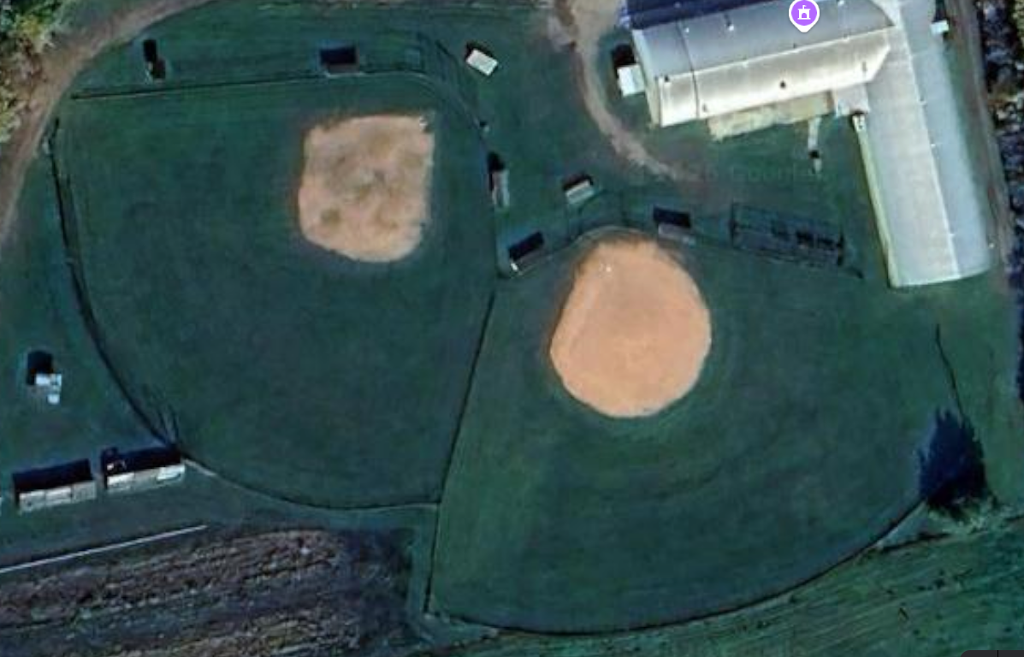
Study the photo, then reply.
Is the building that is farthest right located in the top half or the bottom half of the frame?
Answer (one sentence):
It is in the top half that the building that is farthest right appears.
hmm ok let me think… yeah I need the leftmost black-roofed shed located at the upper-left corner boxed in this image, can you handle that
[148,56,166,81]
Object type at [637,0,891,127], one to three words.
barn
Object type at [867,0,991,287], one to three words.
building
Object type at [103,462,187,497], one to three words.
shed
